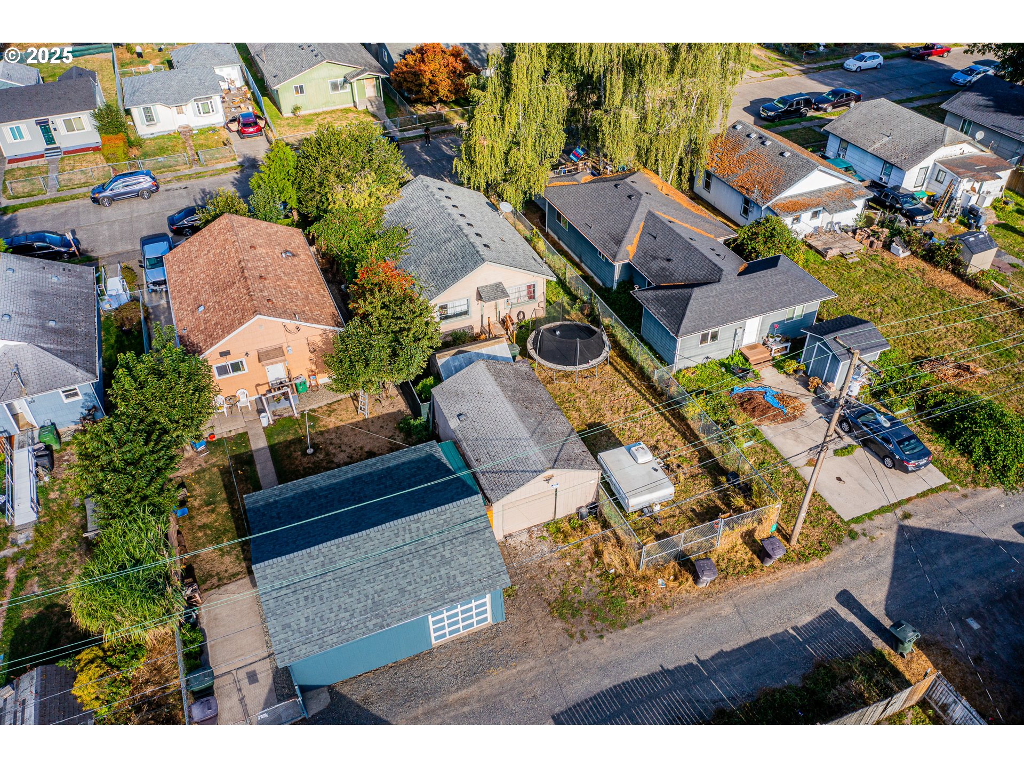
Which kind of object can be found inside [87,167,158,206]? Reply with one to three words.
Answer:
car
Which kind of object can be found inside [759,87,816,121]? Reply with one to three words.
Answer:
car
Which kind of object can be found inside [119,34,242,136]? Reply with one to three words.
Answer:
house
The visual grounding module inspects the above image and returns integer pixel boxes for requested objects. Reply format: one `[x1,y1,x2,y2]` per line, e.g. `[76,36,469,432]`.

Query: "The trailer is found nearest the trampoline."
[591,426,679,525]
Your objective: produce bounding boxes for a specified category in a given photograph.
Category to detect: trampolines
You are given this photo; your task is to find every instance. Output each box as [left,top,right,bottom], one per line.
[526,301,603,381]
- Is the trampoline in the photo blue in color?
No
